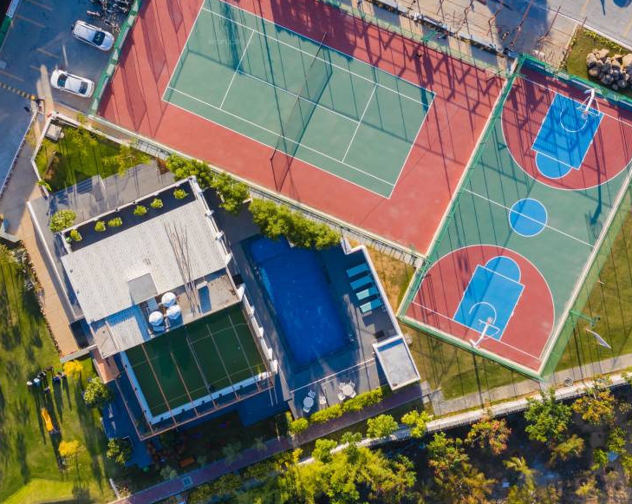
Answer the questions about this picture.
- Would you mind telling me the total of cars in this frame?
two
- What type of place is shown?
sports ground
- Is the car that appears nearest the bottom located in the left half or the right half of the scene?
left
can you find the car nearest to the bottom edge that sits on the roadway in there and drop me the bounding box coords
[49,69,98,99]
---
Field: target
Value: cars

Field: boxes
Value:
[69,19,118,53]
[49,69,98,99]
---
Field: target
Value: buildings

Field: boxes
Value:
[60,176,279,436]
[370,331,421,390]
